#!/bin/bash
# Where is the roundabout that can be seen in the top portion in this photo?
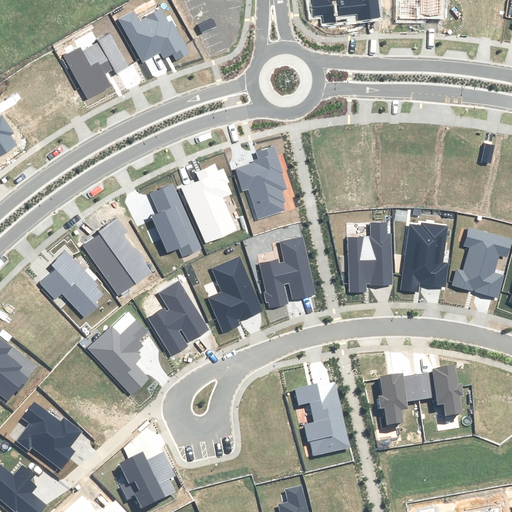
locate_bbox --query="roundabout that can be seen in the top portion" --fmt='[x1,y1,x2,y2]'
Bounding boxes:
[252,47,319,114]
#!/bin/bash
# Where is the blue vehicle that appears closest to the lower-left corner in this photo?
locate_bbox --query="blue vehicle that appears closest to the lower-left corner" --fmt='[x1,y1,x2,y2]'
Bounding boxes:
[204,350,218,364]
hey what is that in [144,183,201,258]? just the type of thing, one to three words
house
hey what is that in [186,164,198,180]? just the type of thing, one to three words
vehicle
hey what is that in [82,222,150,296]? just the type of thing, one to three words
house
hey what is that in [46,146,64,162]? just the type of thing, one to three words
vehicle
